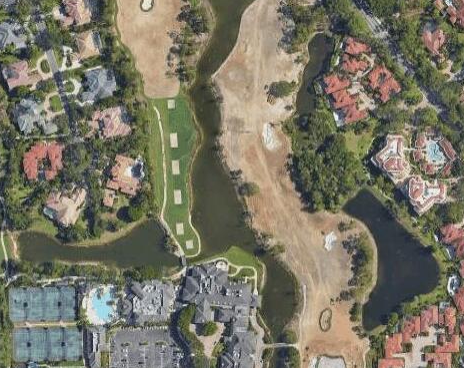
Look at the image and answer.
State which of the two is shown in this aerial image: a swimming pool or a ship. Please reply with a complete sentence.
Visible in the photo is a swimming pool.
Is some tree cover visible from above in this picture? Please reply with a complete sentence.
Yes, tree cover shows up in the scene.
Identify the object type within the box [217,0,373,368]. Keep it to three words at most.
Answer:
golf course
